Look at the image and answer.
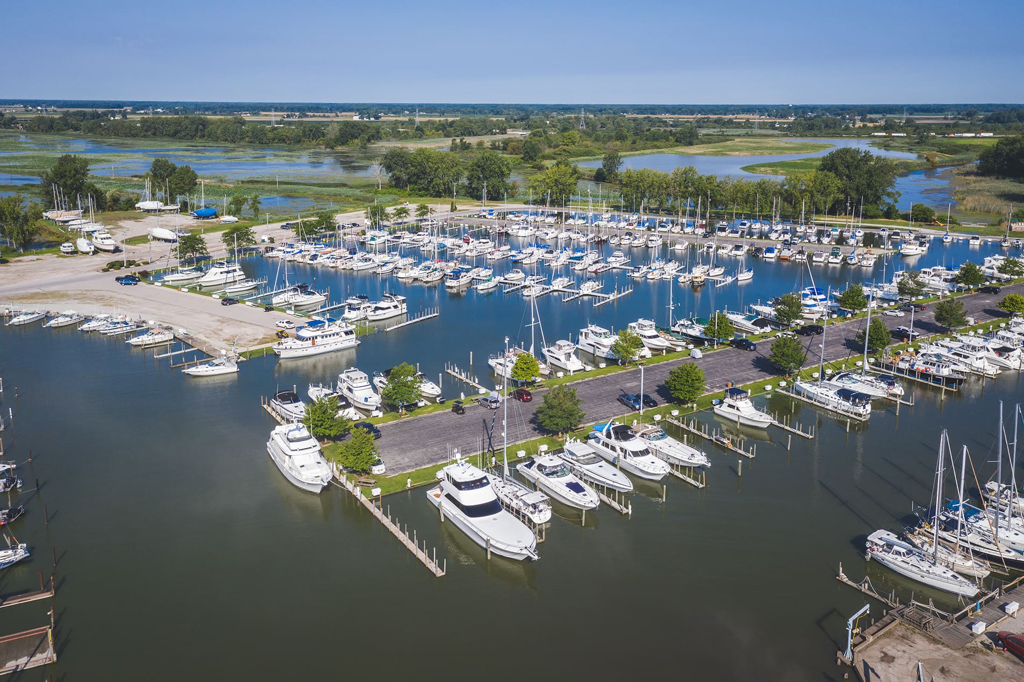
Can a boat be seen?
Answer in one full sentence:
Yes, the photo shows a boat.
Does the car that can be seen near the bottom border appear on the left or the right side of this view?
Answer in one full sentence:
The car that can be seen near the bottom border appears in the right half of the scene.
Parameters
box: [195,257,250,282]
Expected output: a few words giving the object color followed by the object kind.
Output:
white boat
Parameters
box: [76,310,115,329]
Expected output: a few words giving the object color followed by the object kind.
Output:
white boat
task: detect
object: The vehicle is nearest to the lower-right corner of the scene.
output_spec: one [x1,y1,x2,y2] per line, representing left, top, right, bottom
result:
[991,629,1024,652]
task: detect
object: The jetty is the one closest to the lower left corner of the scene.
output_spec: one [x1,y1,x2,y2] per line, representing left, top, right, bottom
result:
[0,626,56,681]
